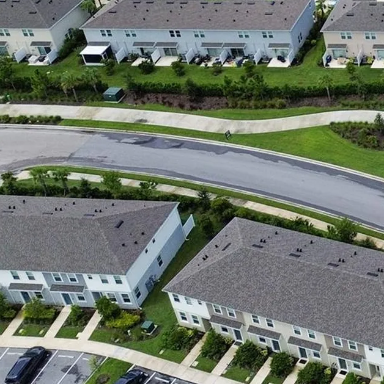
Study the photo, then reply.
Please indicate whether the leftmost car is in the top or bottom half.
bottom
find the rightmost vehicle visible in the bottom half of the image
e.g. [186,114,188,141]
[111,368,150,384]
